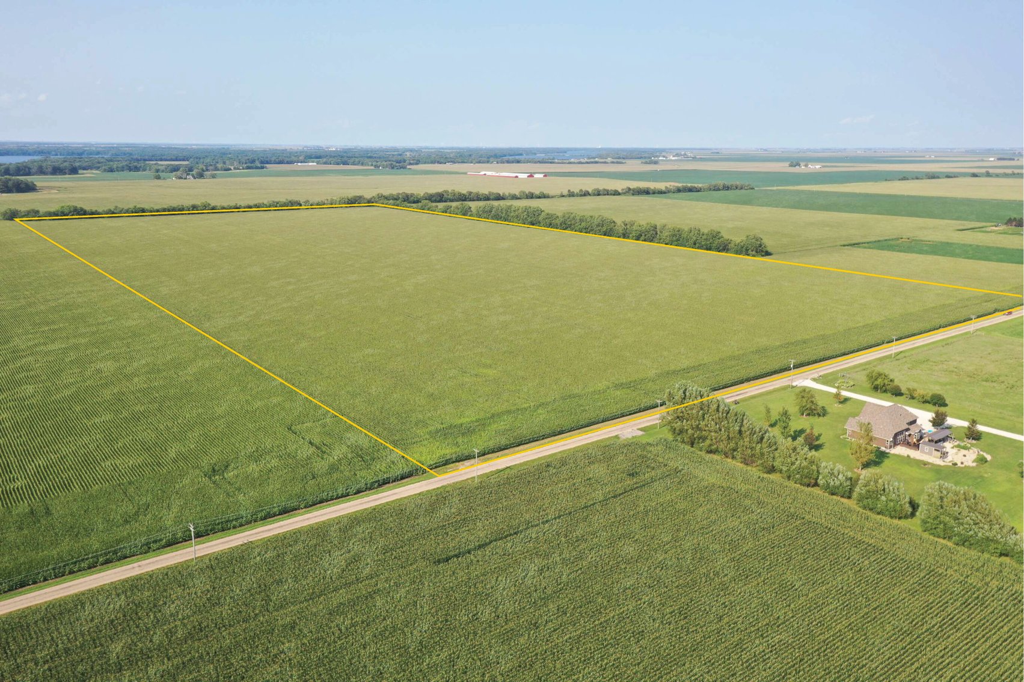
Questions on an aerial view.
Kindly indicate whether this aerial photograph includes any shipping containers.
No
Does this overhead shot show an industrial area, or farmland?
farmland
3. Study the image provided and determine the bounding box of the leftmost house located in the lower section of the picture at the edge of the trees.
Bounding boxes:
[836,402,927,451]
